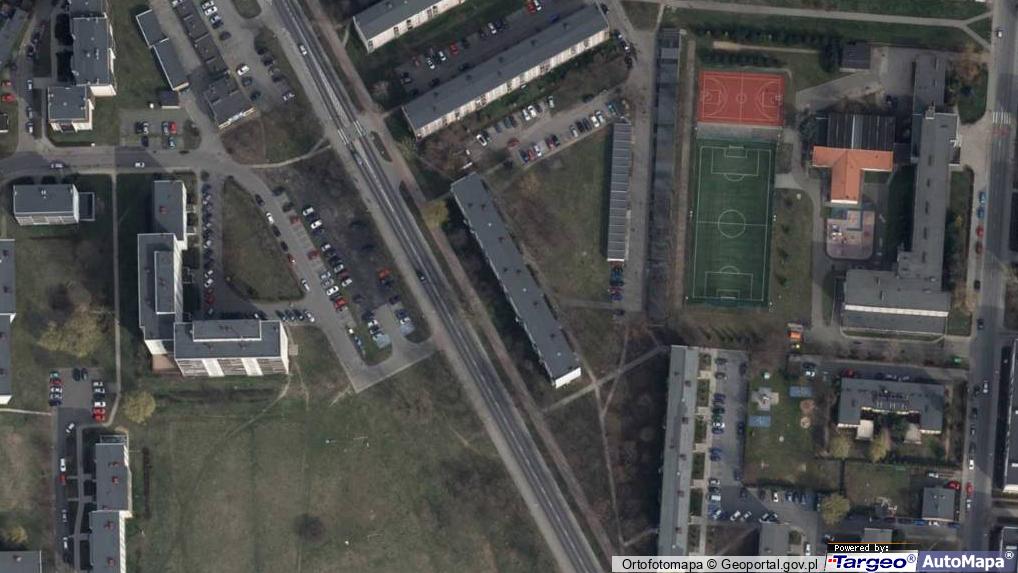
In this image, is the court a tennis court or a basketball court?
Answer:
basketball court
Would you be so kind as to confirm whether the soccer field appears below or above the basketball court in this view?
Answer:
below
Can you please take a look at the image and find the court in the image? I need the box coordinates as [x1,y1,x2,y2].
[698,71,784,127]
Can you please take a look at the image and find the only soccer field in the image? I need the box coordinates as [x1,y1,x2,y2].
[687,122,783,306]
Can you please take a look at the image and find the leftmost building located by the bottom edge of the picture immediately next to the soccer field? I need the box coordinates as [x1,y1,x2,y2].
[655,346,701,573]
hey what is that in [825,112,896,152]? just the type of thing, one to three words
building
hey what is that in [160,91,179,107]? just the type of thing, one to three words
shed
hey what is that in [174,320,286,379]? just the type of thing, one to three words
building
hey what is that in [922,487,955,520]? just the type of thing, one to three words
house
